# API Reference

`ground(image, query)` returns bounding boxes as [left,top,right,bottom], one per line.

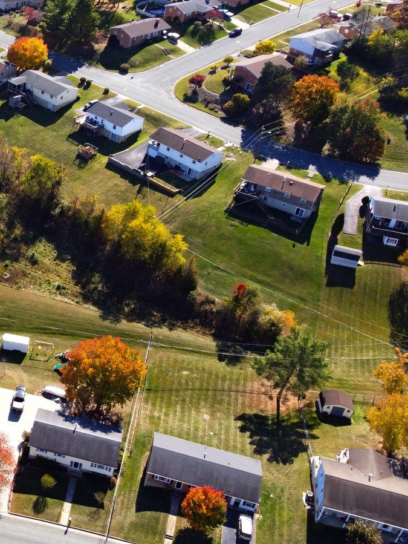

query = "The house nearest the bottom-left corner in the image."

[28,410,123,483]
